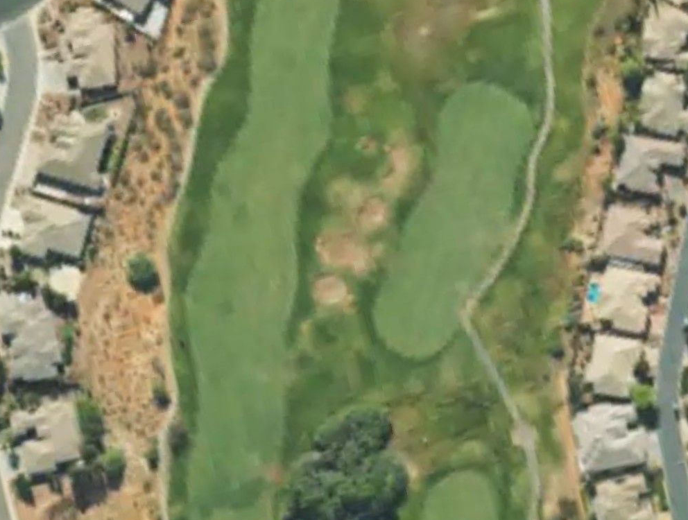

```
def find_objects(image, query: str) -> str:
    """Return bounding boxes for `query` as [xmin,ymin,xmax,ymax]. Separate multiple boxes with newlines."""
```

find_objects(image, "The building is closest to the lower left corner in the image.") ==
[2,395,86,478]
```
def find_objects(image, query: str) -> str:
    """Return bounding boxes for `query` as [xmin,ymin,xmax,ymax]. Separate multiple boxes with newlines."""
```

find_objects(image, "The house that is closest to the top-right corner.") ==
[639,0,688,60]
